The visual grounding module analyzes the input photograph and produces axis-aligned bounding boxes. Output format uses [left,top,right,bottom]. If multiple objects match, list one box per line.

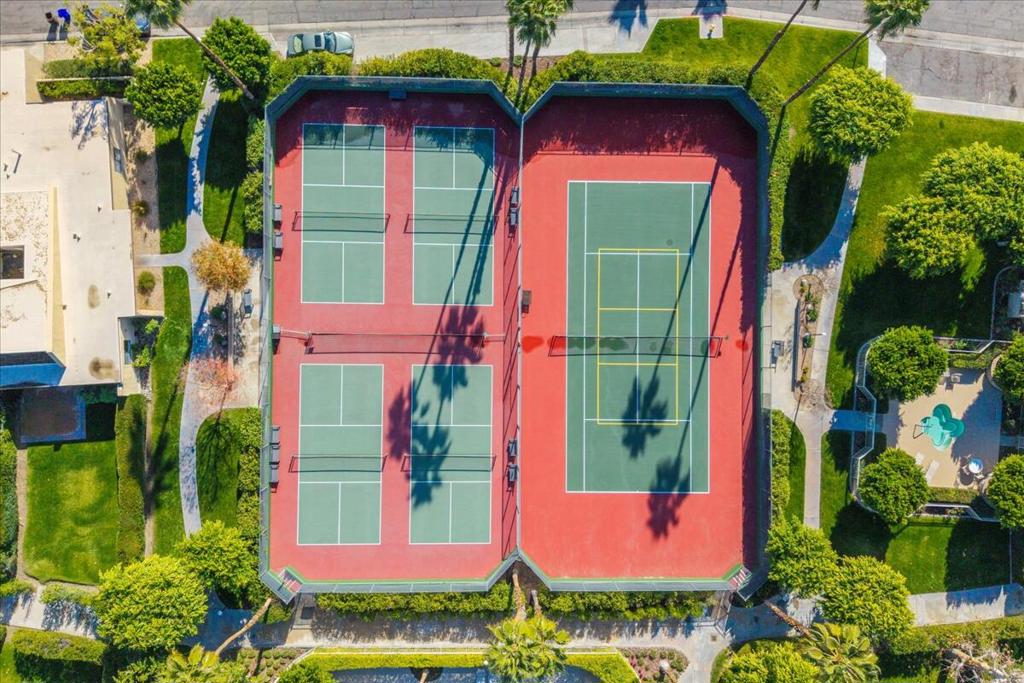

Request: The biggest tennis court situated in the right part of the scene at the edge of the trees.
[518,96,756,580]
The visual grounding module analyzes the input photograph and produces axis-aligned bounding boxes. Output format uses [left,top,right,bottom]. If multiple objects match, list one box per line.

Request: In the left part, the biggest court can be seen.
[270,90,521,580]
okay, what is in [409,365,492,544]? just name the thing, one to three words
sports court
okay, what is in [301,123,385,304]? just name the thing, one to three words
sports court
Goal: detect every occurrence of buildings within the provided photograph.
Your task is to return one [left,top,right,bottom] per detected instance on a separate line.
[0,48,138,389]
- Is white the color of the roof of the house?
Yes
